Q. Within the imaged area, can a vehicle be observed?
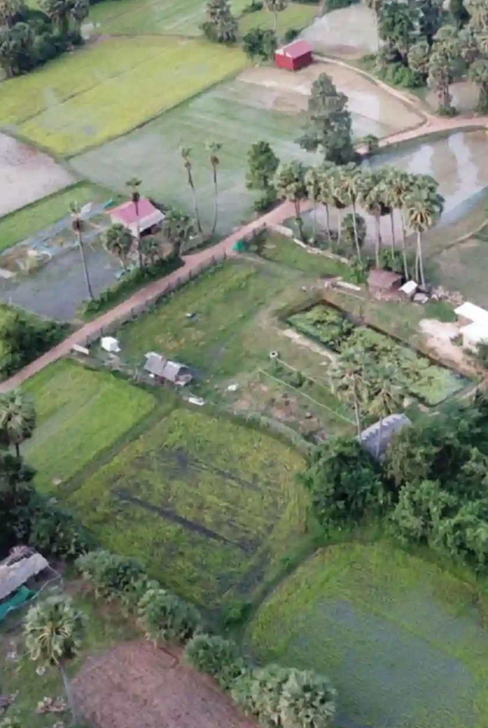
No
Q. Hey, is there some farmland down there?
Yes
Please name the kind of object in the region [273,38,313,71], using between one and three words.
building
